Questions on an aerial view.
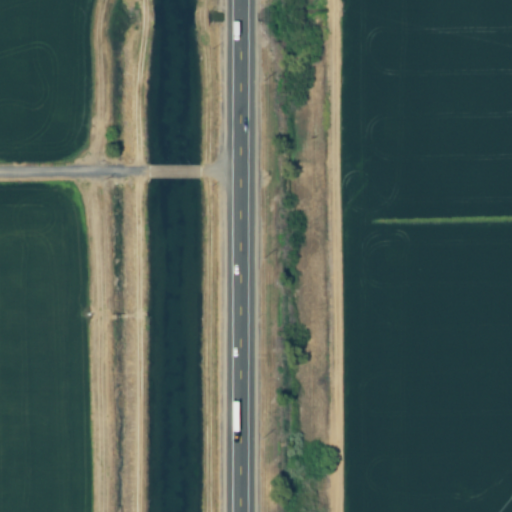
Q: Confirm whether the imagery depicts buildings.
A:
No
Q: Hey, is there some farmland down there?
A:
Yes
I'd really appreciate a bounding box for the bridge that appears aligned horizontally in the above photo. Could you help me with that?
[148,164,204,178]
